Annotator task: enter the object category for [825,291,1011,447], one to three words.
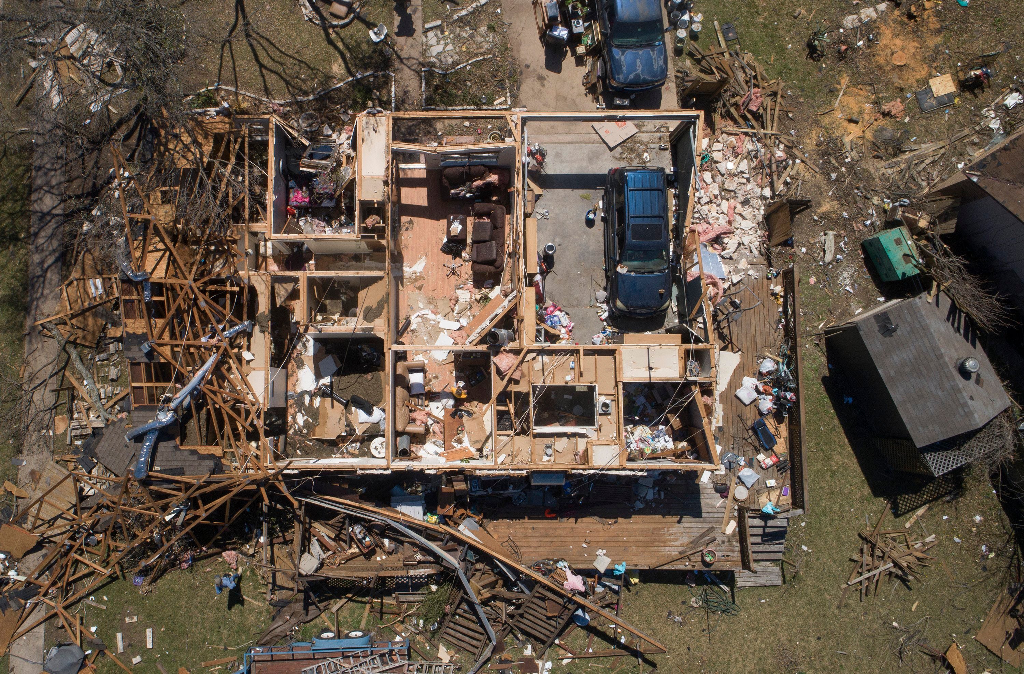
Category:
shed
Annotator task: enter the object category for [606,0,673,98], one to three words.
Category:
car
